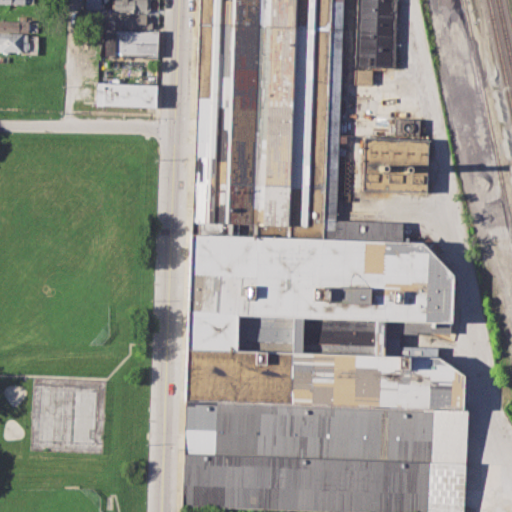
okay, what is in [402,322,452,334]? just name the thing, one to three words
building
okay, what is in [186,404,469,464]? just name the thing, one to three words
shed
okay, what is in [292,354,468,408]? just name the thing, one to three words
building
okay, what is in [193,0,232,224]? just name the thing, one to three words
shed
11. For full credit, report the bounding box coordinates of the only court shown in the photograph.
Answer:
[31,380,106,453]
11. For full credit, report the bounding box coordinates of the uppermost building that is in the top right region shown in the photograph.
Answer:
[355,0,397,69]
